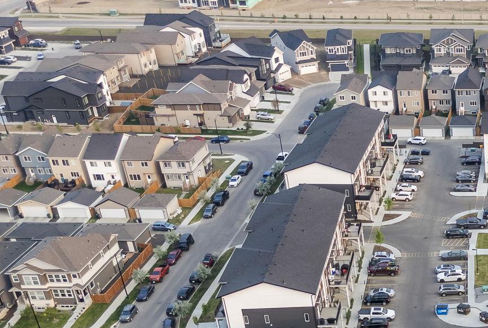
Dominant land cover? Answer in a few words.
buildings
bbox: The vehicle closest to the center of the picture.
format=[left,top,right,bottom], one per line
[238,159,252,172]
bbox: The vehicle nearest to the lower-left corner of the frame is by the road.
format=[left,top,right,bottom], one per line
[117,301,138,320]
